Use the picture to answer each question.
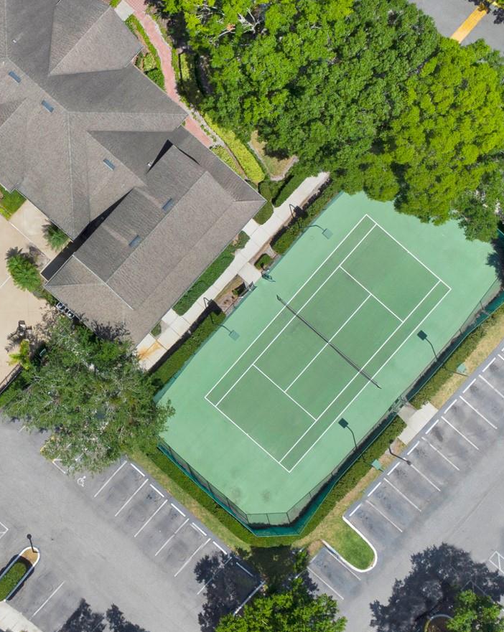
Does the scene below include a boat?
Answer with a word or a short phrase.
No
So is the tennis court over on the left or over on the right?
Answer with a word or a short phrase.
right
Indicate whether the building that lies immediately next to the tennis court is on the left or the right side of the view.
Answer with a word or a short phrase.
left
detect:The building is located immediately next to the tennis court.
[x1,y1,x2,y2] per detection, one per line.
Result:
[0,0,267,356]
